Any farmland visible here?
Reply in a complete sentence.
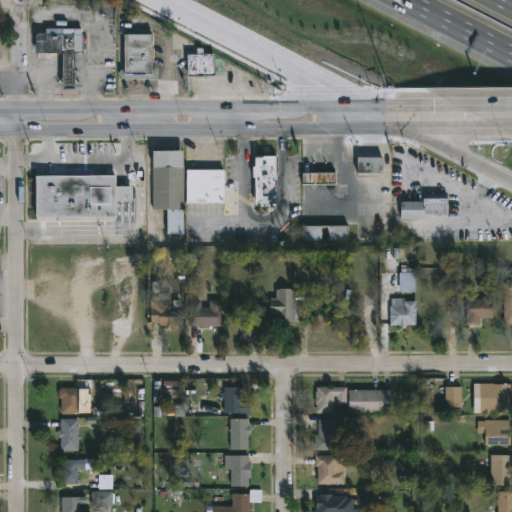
No, the picture contains no farmland.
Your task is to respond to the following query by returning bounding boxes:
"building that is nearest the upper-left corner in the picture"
[36,22,84,87]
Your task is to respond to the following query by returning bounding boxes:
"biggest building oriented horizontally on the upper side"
[36,176,133,218]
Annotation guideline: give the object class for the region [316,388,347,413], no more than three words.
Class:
house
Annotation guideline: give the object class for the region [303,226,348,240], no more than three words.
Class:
shed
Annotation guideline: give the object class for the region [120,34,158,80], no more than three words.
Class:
building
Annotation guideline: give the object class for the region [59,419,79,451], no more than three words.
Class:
house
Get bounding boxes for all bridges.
[387,86,512,146]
